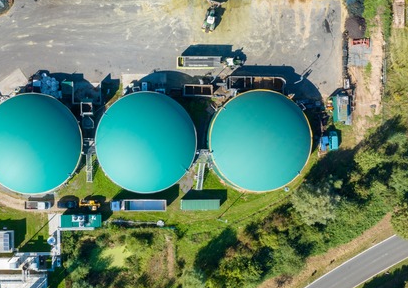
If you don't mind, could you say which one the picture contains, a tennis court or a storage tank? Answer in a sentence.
It is a storage tank that can be seen here.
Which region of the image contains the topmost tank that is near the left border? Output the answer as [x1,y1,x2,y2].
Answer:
[0,91,84,196]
